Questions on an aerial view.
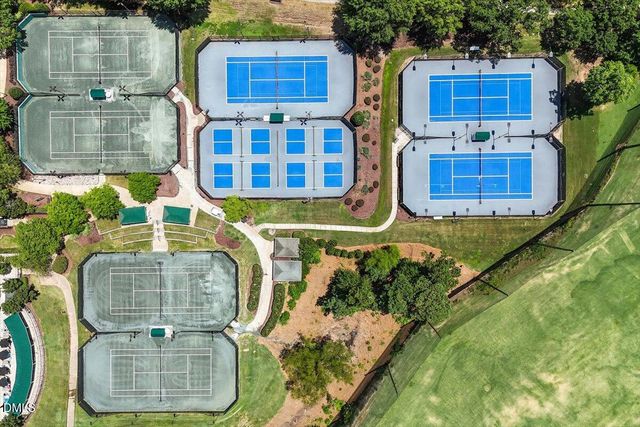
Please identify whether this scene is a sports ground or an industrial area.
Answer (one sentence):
What you see here is a sports ground.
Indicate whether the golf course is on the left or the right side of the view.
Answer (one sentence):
The golf course sits on the right side.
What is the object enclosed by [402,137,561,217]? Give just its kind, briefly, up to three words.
tennis court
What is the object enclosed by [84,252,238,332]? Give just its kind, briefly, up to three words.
tennis court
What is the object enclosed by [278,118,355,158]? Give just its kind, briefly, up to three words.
sports court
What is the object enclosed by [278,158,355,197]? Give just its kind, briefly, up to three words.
sports court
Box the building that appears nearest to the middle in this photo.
[274,238,300,258]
